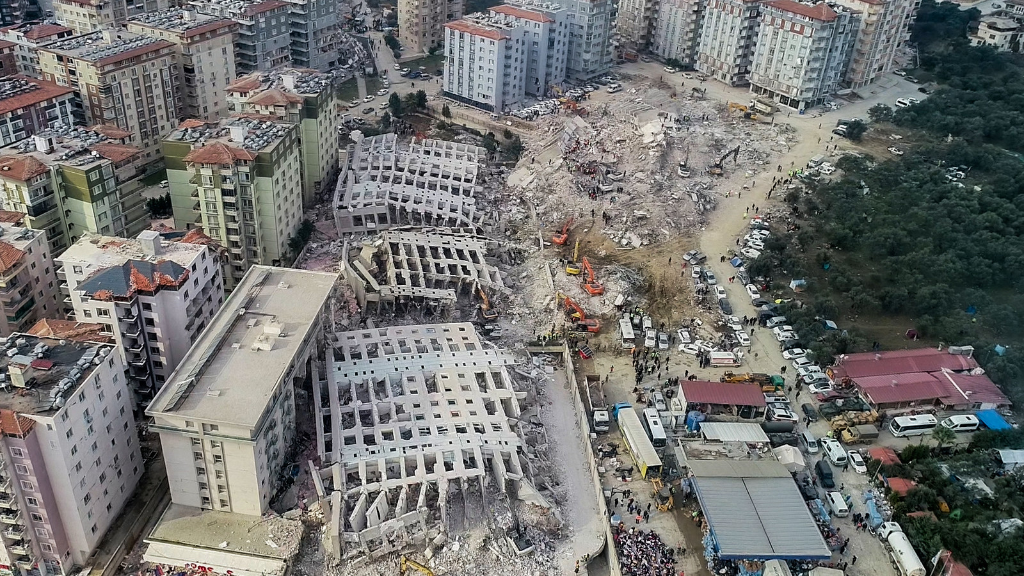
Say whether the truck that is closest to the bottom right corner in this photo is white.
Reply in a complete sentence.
Yes, the truck that is closest to the bottom right corner appears white.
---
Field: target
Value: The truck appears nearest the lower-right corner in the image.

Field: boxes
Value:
[885,512,933,576]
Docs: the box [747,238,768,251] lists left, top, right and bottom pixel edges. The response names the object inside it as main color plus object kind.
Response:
white vehicle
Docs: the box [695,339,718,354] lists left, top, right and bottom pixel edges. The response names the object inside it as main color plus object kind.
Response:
white car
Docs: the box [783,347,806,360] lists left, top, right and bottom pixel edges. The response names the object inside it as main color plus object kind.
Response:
white vehicle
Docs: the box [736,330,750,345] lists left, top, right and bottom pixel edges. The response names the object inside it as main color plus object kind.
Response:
white car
